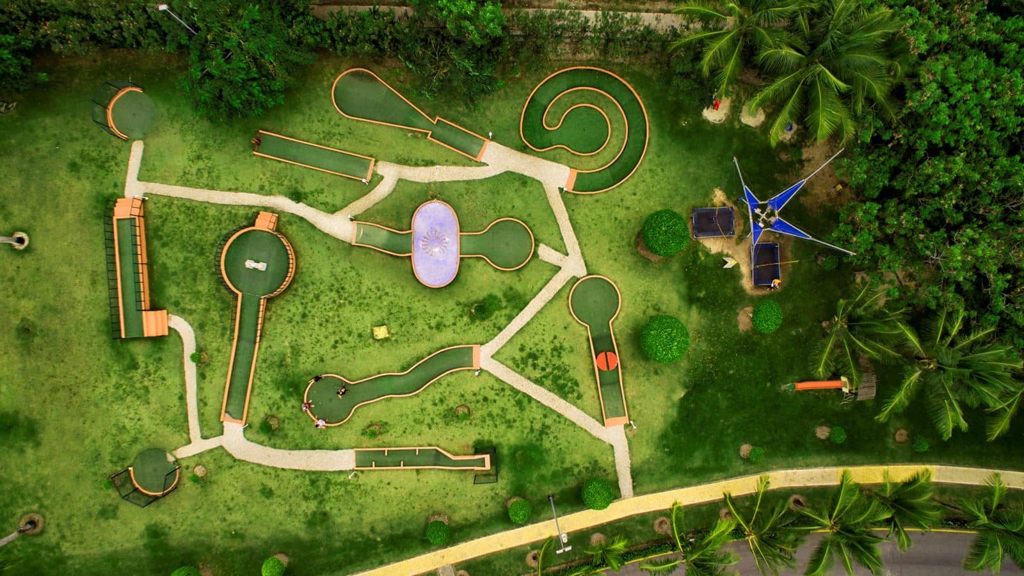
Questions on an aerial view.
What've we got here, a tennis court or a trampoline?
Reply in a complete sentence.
The one in the frame is a trampoline.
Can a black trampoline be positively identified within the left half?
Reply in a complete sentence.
No, no black trampoline can be made out within the left half.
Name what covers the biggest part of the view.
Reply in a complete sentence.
The scene is dominated by grass.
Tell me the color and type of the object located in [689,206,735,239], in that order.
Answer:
black trampoline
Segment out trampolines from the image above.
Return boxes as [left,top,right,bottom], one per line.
[689,206,735,239]
[747,242,781,286]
